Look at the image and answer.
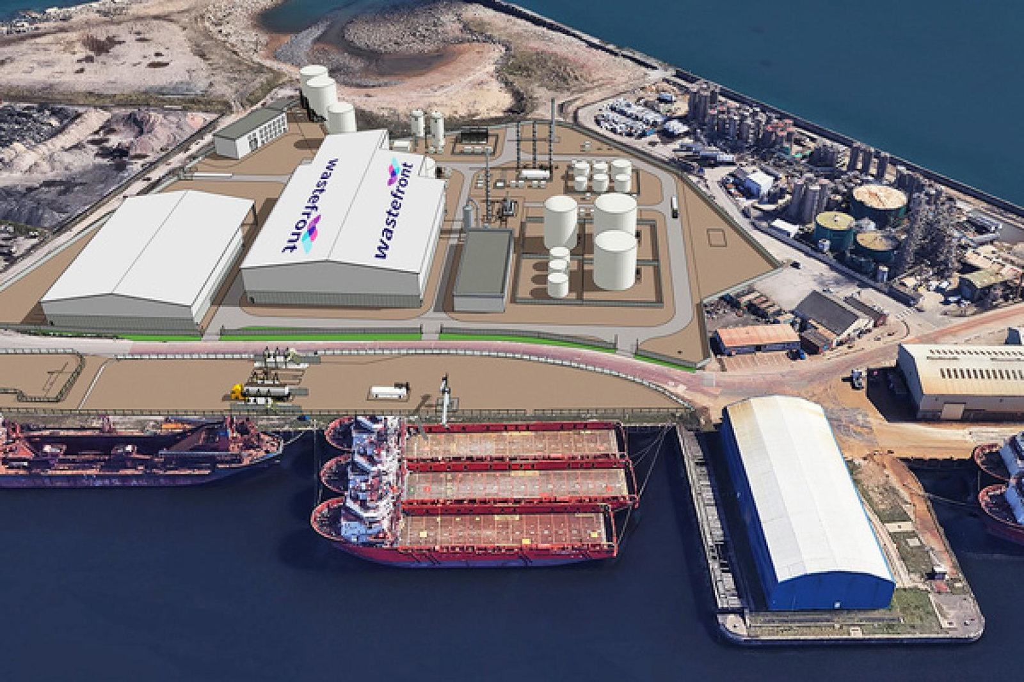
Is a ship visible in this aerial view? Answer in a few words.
Yes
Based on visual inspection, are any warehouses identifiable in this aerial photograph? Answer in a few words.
Yes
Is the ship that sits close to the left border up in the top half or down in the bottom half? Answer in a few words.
bottom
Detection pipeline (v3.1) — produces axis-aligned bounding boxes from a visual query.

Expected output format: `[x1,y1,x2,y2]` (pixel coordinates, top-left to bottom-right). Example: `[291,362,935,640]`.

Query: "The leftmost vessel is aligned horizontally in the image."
[0,406,282,486]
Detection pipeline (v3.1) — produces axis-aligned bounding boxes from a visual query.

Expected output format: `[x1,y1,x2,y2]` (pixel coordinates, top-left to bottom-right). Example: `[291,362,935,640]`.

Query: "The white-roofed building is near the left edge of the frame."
[39,189,255,331]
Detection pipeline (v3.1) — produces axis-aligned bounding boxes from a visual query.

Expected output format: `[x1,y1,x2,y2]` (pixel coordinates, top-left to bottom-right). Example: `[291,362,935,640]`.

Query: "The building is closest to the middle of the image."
[454,225,512,315]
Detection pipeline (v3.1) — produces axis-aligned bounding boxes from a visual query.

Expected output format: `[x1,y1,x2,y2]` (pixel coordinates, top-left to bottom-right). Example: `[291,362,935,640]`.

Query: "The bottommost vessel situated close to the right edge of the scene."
[977,485,1024,548]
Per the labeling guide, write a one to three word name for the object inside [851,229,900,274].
storage tank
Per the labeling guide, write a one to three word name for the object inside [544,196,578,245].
storage tank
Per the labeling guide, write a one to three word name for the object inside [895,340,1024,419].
building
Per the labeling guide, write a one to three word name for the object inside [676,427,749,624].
pier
